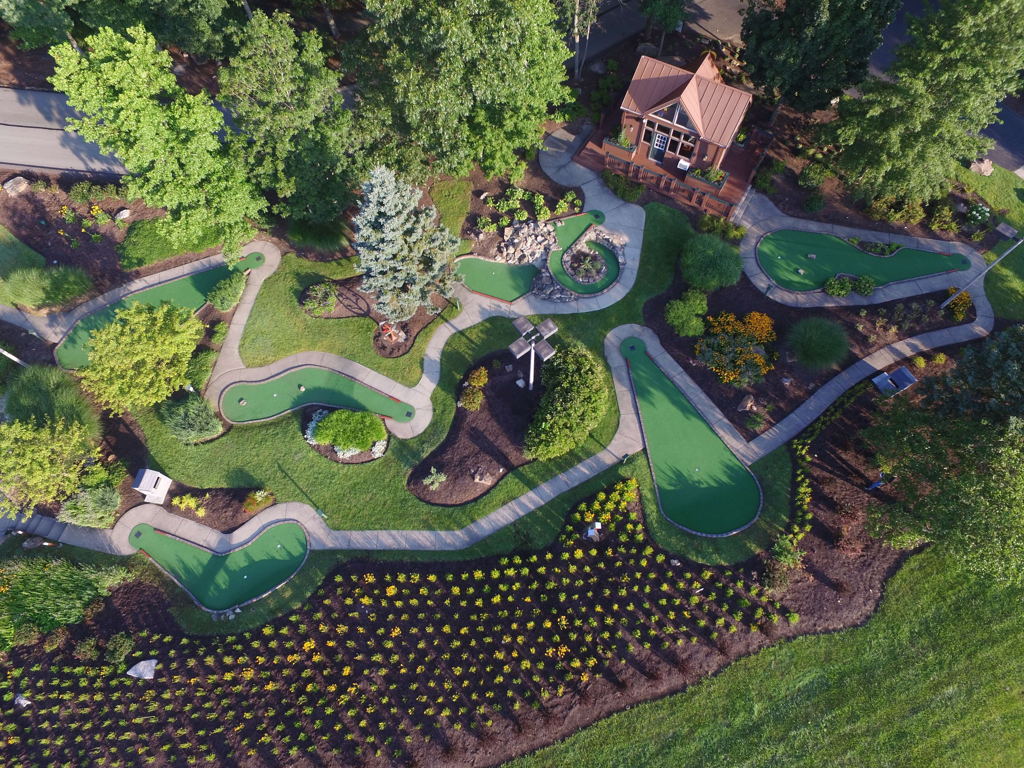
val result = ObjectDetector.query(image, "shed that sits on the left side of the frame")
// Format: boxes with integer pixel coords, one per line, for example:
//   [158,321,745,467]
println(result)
[125,468,172,507]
